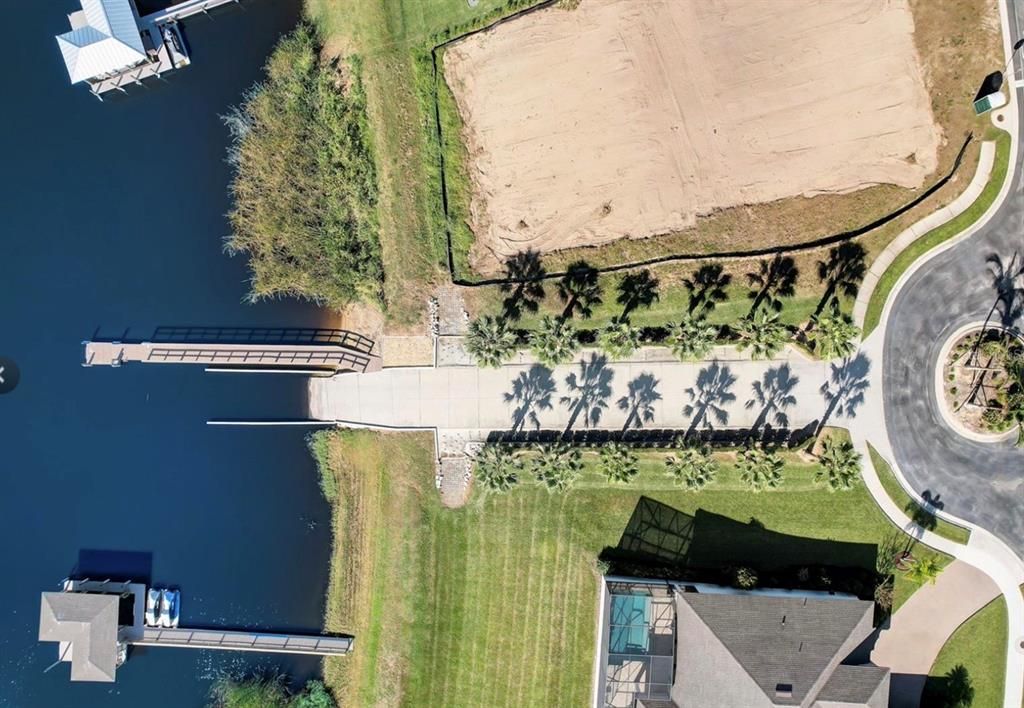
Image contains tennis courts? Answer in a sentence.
No, this view has no tennis court in it.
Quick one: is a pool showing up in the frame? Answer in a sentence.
Yes, there is a pool in the image.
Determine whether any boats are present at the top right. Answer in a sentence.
No, no boat appears at the top right.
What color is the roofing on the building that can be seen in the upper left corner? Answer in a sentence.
The roof over the building that can be seen in the upper left corner appears white.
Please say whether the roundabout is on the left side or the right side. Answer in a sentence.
The roundabout sits on the right side.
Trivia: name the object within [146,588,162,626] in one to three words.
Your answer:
boat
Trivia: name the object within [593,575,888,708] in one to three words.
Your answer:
house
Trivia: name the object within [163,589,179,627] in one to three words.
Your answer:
boat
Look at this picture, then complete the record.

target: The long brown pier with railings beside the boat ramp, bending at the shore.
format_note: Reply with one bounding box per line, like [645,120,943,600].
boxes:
[86,342,383,372]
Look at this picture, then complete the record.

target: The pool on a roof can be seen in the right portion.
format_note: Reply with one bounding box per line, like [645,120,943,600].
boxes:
[607,594,649,655]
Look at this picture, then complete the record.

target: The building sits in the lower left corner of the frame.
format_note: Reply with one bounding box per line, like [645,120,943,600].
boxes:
[38,579,147,683]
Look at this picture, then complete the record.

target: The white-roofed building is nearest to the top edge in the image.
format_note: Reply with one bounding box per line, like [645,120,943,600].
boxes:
[55,0,198,93]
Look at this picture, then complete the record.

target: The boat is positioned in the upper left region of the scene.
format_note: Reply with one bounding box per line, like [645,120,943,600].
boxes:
[167,26,197,76]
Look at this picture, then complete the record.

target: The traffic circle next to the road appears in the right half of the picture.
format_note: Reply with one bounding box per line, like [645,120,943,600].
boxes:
[934,322,1024,442]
